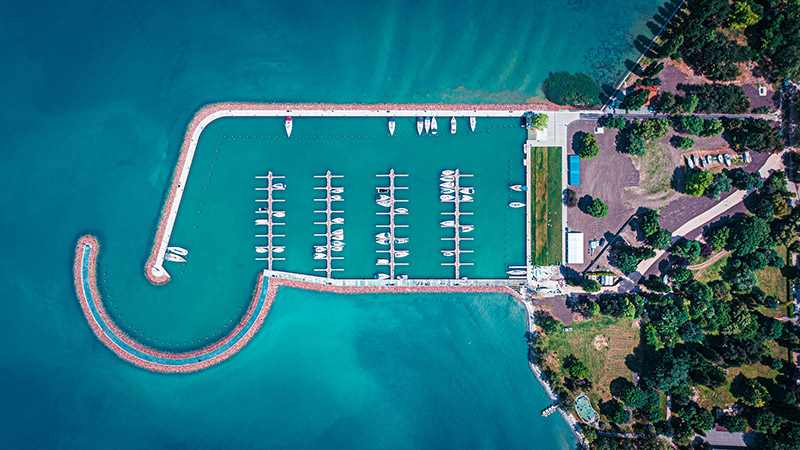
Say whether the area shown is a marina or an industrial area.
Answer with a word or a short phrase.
marina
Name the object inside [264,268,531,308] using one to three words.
pier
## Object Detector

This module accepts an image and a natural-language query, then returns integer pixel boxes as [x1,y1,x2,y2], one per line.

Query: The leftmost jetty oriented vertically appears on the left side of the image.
[255,171,285,269]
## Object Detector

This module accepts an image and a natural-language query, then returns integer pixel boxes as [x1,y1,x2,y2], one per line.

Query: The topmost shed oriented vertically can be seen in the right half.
[566,155,580,186]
